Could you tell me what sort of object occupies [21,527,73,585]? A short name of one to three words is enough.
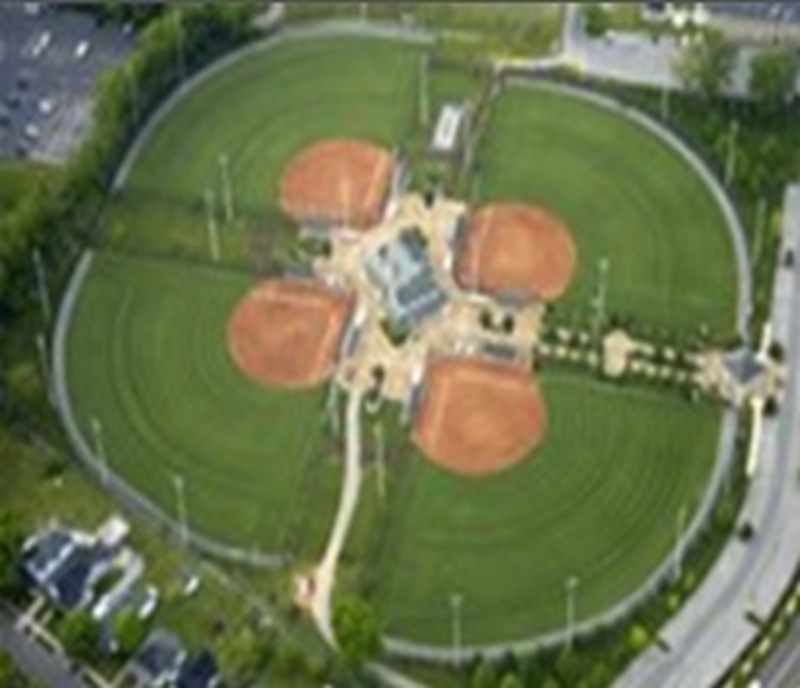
house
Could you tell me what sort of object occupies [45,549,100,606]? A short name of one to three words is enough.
house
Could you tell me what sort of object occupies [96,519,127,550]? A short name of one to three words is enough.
building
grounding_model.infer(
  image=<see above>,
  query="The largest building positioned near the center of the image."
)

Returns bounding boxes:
[359,228,451,330]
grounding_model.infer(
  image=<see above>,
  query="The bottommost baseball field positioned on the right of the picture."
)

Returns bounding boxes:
[382,355,740,658]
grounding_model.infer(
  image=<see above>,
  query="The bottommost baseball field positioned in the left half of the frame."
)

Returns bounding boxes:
[52,251,356,565]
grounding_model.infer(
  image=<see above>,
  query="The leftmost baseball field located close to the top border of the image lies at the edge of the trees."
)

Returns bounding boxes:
[113,22,438,230]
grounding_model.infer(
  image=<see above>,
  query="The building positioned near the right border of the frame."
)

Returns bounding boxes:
[722,347,766,389]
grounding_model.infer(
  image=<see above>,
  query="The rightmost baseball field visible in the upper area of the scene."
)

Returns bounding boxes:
[452,75,751,344]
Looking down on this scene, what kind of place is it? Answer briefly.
sports ground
